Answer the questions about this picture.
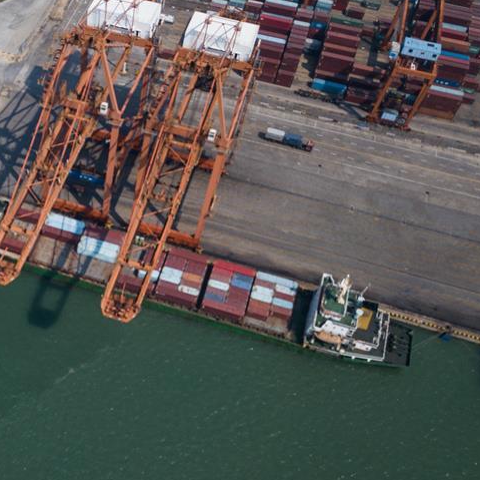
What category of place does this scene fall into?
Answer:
port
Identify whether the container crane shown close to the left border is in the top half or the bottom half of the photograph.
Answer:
top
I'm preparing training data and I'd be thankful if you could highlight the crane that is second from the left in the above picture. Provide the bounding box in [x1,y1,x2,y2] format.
[110,11,268,319]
